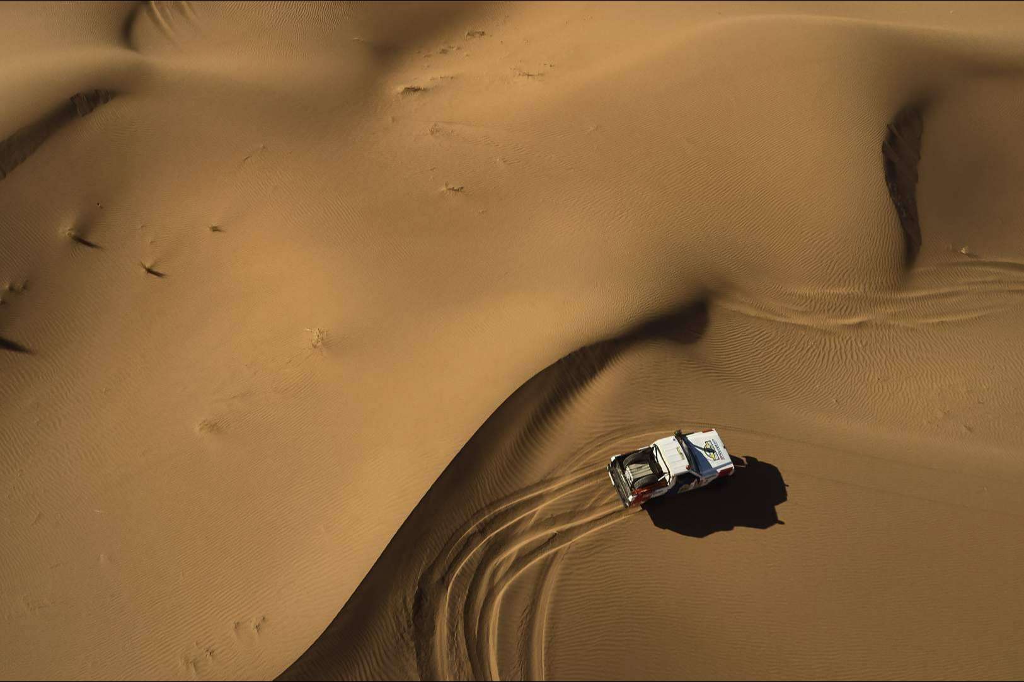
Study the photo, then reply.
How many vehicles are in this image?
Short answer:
1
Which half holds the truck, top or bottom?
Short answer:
bottom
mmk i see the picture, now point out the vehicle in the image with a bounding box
[603,430,732,506]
